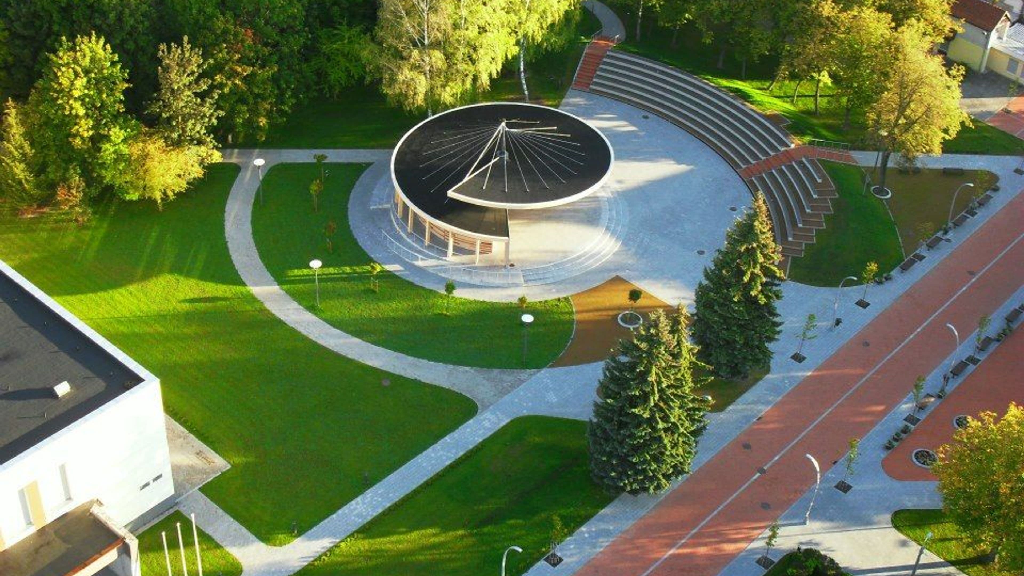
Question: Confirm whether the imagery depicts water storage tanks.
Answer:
No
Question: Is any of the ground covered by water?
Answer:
No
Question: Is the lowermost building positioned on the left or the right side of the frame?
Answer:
left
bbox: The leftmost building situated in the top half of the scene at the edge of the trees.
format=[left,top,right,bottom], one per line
[390,102,615,267]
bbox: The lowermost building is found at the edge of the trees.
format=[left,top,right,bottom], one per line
[0,262,179,559]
